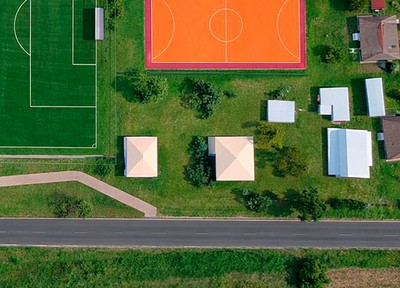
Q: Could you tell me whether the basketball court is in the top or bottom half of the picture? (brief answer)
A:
top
